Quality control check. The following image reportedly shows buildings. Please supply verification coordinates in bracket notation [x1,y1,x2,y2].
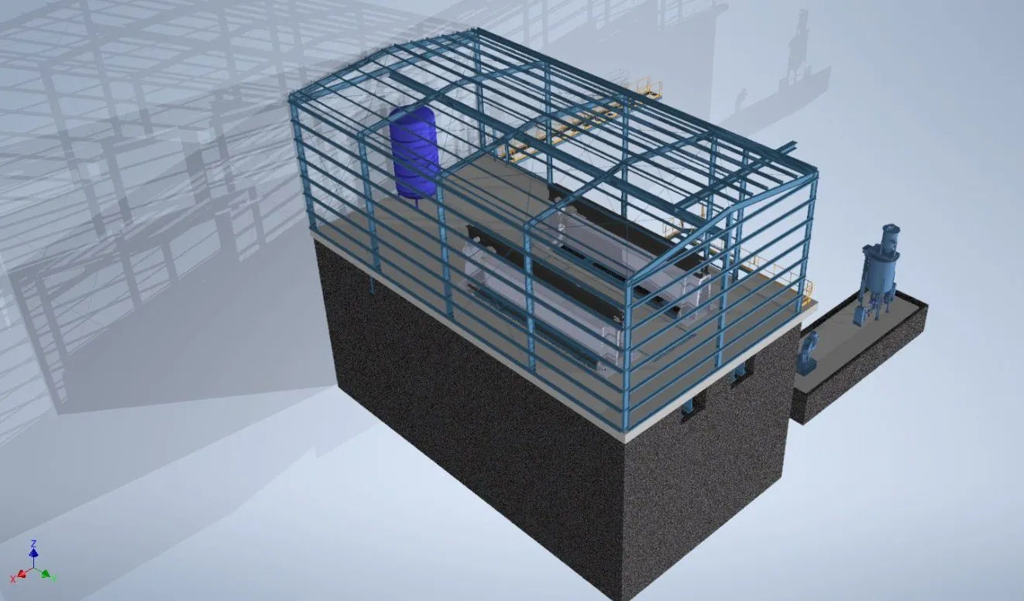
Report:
[290,24,819,436]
